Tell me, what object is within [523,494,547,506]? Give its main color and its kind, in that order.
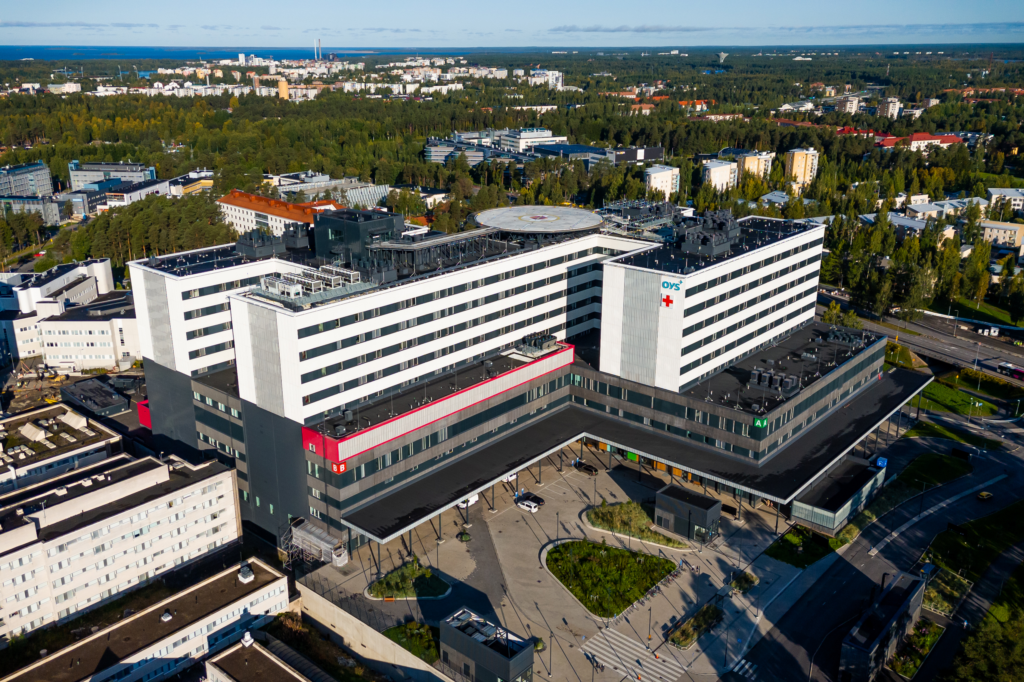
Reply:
black vehicle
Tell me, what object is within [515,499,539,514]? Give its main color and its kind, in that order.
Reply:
white car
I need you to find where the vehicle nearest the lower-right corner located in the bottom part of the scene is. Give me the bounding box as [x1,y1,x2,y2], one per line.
[974,489,996,501]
